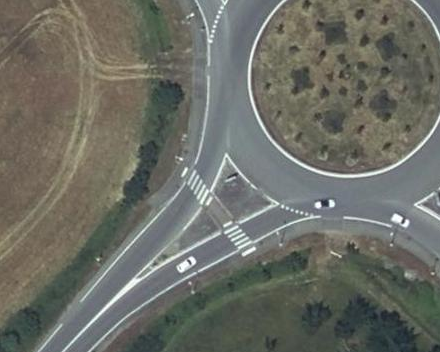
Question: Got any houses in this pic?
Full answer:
No, this view has no house in it.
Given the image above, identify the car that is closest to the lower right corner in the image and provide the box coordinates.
[390,213,410,227]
